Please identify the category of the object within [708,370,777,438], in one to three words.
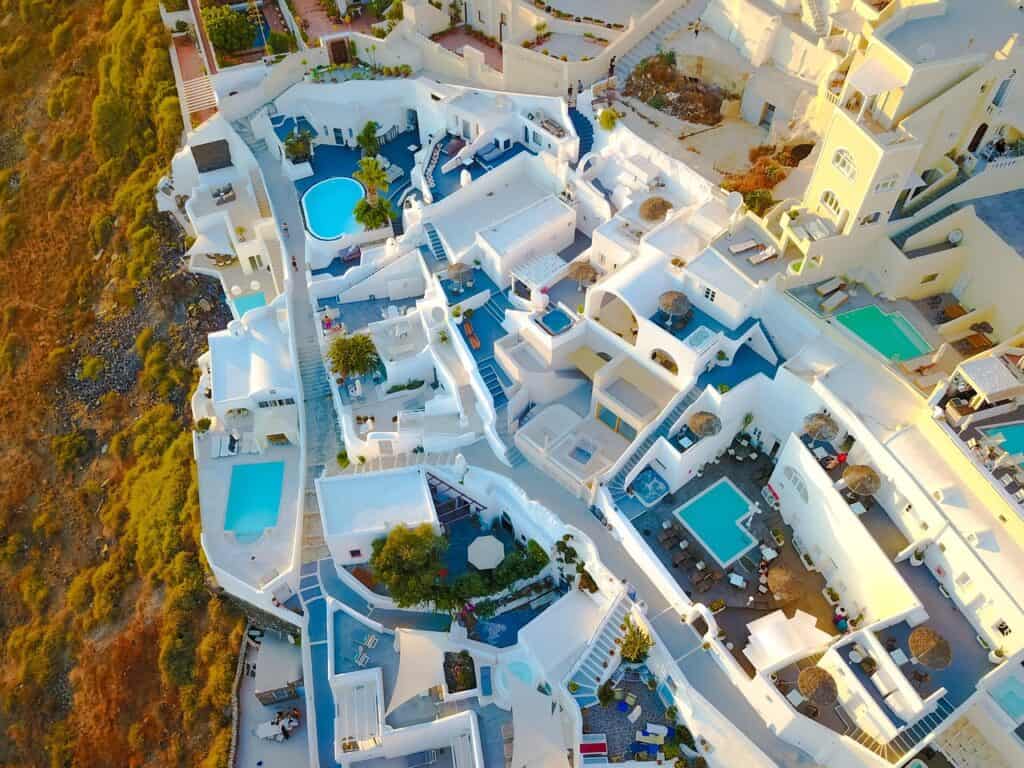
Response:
house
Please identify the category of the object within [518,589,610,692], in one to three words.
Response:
house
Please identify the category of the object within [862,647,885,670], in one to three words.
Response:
umbrella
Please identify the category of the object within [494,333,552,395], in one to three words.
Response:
building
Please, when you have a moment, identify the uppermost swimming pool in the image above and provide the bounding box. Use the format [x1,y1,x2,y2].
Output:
[302,177,365,240]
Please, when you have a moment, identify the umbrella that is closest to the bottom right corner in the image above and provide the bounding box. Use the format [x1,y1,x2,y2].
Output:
[907,632,952,675]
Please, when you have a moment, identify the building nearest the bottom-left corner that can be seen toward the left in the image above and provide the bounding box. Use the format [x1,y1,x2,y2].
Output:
[256,640,303,703]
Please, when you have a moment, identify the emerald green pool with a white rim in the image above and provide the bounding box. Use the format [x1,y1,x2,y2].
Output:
[835,304,935,361]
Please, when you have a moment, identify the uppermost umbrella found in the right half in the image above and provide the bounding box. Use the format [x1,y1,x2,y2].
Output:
[643,195,674,226]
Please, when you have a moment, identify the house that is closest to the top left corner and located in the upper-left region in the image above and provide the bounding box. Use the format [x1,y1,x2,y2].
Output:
[176,116,253,215]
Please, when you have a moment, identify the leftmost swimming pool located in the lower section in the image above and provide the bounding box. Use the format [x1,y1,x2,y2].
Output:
[221,459,287,547]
